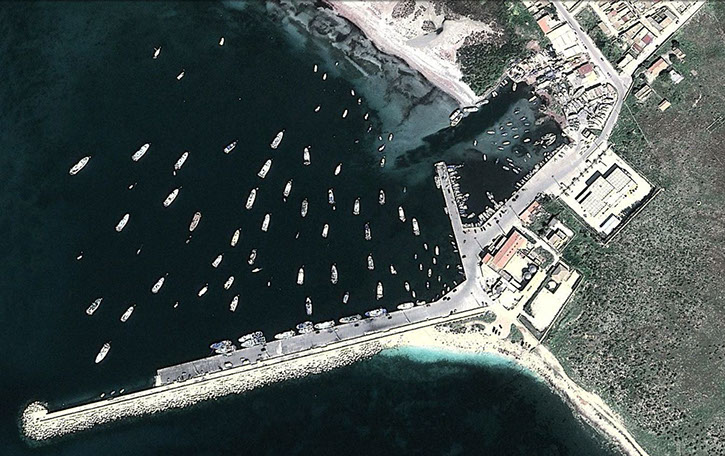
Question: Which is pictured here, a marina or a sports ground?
marina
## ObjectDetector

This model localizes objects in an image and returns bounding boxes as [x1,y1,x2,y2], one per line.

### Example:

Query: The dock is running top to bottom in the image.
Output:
[435,160,462,241]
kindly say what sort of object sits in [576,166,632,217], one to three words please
building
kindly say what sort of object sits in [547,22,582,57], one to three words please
building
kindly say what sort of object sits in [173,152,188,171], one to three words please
boat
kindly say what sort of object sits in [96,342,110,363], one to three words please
boat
